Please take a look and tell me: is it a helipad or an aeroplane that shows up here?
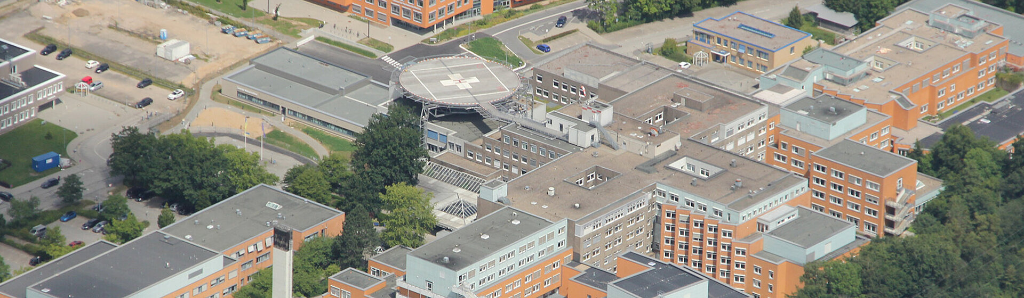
helipad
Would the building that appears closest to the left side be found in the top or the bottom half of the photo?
top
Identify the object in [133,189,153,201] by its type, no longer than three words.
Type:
vehicle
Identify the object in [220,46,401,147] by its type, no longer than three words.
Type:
building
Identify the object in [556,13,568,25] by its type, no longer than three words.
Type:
vehicle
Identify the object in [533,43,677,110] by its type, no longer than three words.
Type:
building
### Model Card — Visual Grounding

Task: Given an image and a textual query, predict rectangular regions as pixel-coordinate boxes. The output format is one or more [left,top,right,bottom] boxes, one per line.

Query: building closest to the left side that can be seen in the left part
[0,38,68,133]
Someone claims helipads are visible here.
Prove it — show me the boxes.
[391,55,573,171]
